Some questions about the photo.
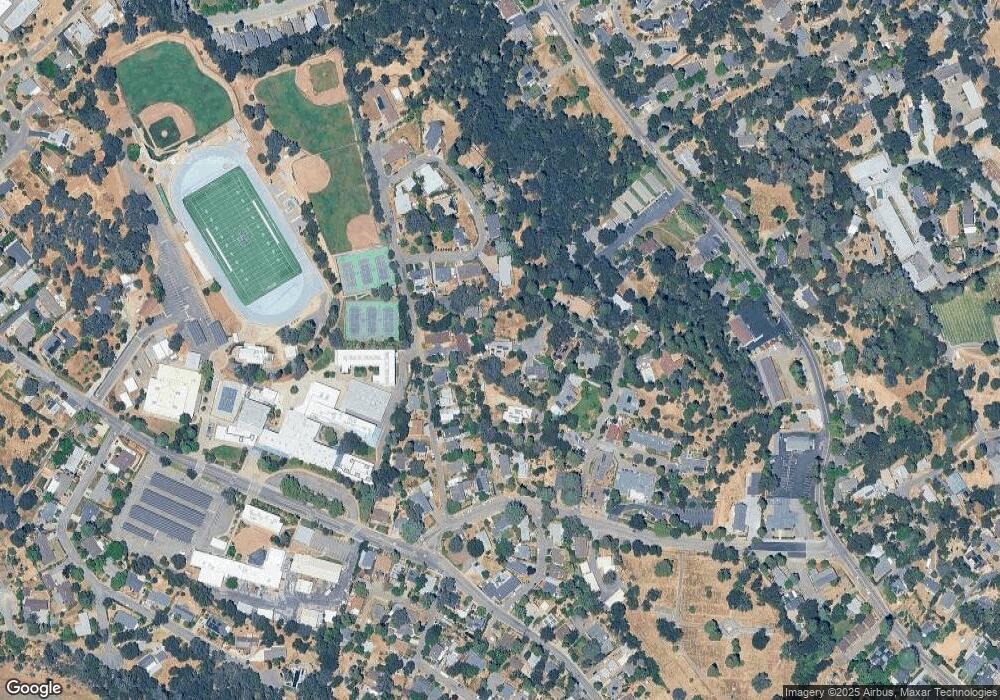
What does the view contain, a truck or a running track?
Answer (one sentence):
The image shows a running track.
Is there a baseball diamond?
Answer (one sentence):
Yes, I can see a baseball diamond in this picture.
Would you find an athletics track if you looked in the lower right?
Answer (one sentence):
No, I can find no athletics track in the lower right.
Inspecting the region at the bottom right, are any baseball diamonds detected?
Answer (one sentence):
No, looking at the bottom right, there is no baseball diamond.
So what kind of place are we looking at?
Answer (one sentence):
The area seen from above is a residential area.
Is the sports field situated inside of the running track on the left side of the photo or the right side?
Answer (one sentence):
You can find the sports field situated inside of the running track on the left side of the picture.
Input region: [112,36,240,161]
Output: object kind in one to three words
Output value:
baseball field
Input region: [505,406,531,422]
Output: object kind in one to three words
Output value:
building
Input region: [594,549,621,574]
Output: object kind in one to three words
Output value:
house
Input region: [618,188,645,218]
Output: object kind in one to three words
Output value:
building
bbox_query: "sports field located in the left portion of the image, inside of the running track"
[184,168,300,304]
